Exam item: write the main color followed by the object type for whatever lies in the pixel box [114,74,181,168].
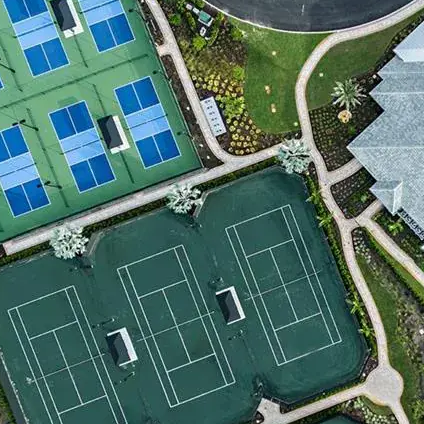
blue sports court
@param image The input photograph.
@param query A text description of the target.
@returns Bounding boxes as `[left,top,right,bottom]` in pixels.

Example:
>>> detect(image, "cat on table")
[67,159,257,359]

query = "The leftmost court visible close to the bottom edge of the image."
[6,283,128,424]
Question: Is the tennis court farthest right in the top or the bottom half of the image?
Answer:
bottom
